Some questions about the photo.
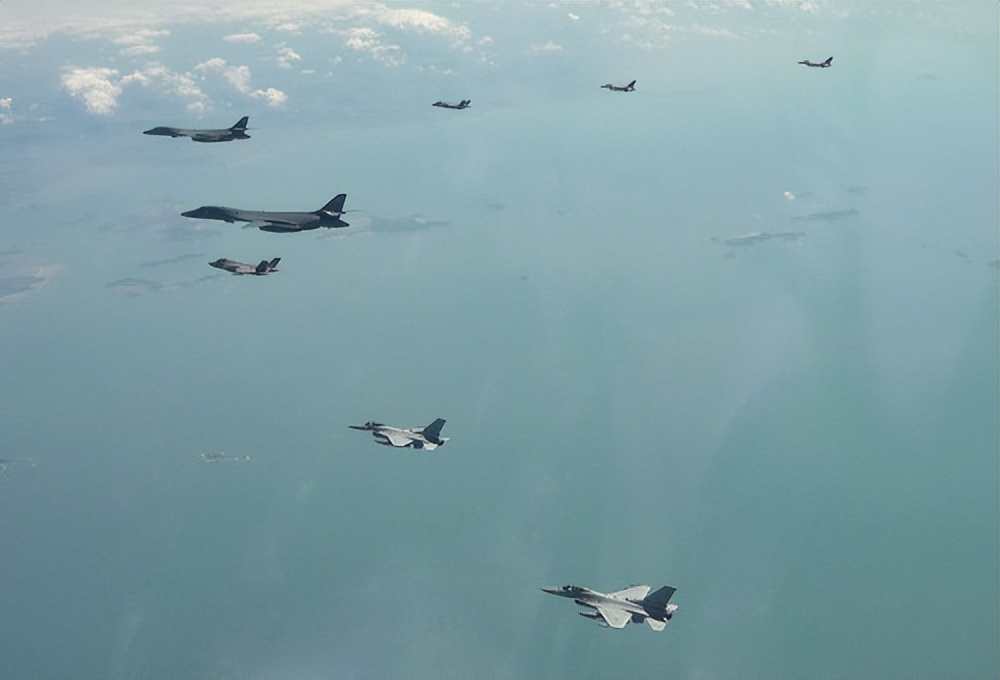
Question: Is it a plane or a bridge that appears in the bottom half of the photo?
plane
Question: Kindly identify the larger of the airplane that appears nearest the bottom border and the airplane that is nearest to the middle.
the airplane that appears nearest the bottom border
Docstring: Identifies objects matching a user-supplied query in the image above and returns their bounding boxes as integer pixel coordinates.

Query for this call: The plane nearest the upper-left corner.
[143,116,259,142]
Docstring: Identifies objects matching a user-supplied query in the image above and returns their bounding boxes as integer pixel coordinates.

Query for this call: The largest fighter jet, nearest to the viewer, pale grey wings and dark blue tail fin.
[539,585,675,632]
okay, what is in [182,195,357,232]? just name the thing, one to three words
airplane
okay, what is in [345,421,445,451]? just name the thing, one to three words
airplane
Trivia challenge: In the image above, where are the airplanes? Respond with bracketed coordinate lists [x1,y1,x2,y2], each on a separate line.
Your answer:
[182,195,357,232]
[601,81,635,92]
[432,100,470,109]
[210,257,281,276]
[539,585,675,632]
[799,58,832,66]
[345,421,445,451]
[143,116,259,142]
